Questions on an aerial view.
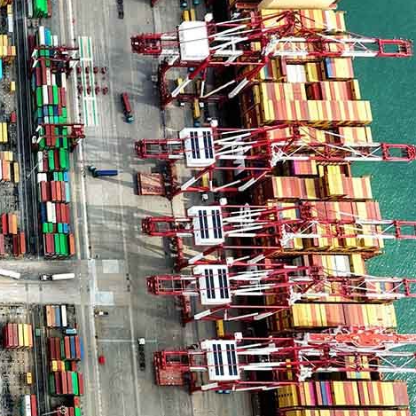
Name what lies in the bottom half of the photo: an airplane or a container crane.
container crane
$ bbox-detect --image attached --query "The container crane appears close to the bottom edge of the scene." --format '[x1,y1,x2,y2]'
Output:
[148,329,416,398]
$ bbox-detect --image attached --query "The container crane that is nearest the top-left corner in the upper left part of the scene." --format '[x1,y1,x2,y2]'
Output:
[21,48,80,84]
